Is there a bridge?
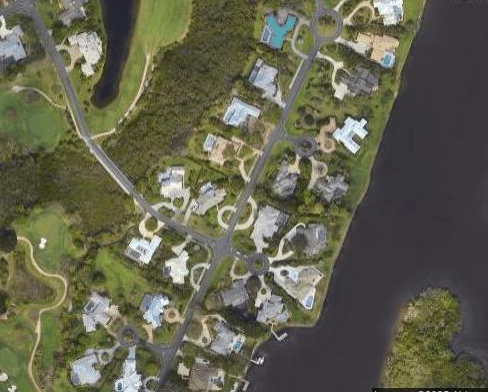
Yes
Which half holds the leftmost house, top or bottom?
top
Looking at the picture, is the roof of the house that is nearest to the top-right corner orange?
No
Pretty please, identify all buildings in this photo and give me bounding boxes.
[374,0,404,25]
[221,279,249,307]
[210,319,245,356]
[253,206,288,243]
[0,28,27,66]
[275,160,300,194]
[270,265,321,309]
[165,251,188,283]
[68,352,101,385]
[224,98,262,127]
[342,67,379,94]
[160,165,184,197]
[82,292,110,332]
[357,32,398,68]
[257,294,289,324]
[261,15,299,49]
[319,175,347,202]
[115,359,144,392]
[67,29,105,79]
[334,117,369,153]
[190,359,224,392]
[140,292,169,328]
[59,0,87,25]
[249,59,278,97]
[297,224,327,257]
[189,183,225,214]
[126,235,160,263]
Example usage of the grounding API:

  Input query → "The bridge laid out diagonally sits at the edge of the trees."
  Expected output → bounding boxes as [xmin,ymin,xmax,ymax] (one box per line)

[87,139,136,196]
